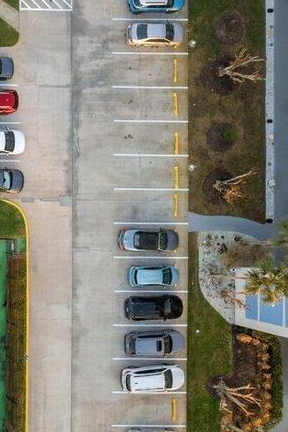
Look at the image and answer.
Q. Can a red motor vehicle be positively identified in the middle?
No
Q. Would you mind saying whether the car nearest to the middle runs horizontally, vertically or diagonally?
horizontally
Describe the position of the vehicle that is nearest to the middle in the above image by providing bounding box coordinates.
[118,226,178,254]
